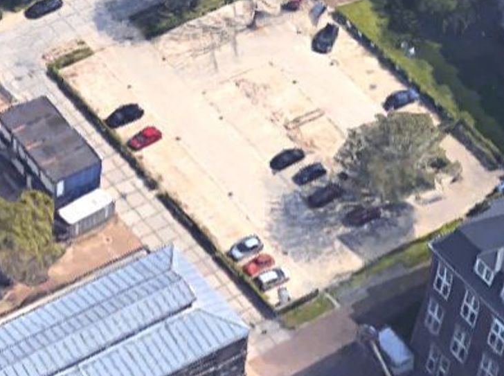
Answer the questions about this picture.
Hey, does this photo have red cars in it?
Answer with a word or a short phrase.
Yes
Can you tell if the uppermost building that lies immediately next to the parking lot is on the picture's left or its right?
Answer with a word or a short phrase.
left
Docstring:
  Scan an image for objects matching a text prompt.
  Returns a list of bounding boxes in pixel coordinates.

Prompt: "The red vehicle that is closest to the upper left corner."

[125,121,166,152]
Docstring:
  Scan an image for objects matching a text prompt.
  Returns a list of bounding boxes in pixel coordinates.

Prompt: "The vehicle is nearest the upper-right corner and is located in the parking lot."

[378,84,426,114]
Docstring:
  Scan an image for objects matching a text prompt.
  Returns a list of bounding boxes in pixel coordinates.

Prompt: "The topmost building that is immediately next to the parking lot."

[0,96,104,221]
